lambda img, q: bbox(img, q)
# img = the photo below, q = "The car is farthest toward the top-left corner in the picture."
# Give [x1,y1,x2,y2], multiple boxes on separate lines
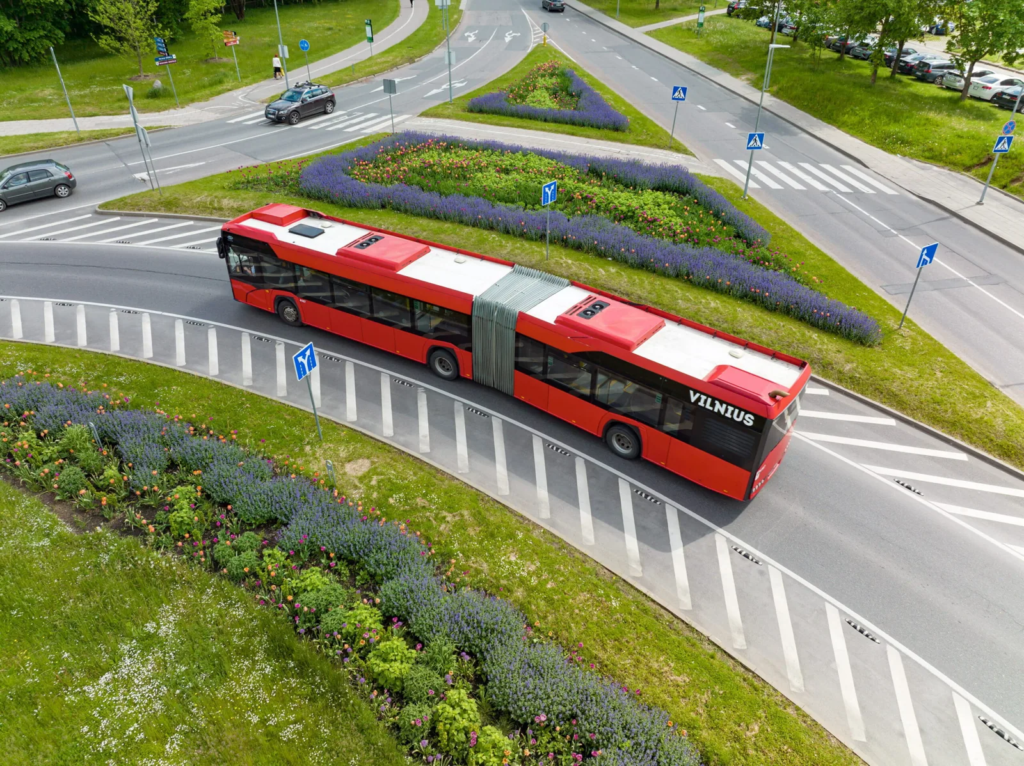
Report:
[0,159,79,208]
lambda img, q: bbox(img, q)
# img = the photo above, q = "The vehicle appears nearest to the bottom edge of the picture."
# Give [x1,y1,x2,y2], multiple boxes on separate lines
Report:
[213,198,814,503]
